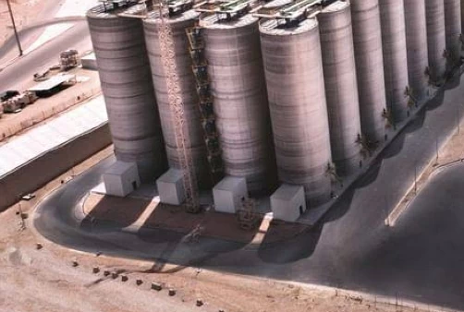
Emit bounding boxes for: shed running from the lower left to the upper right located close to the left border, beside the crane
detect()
[0,106,111,212]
